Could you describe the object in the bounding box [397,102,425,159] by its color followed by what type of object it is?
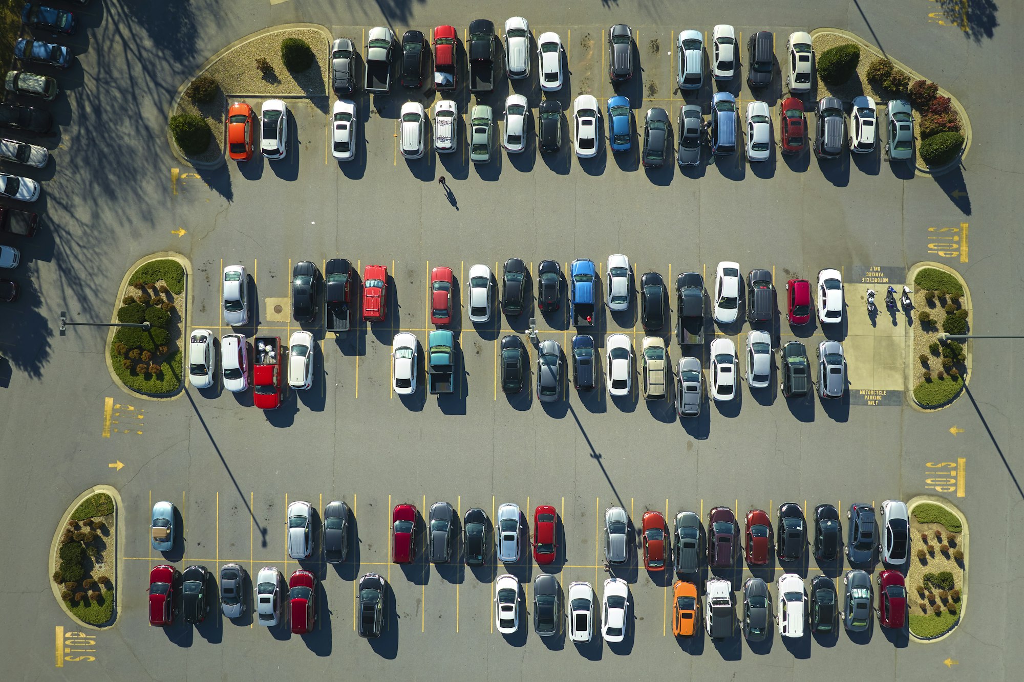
white car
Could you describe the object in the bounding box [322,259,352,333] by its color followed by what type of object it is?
black truck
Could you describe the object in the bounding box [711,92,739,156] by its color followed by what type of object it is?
blue car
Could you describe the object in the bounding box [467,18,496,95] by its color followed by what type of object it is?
black truck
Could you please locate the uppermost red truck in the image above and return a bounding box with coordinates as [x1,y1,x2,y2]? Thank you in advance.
[430,24,459,94]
